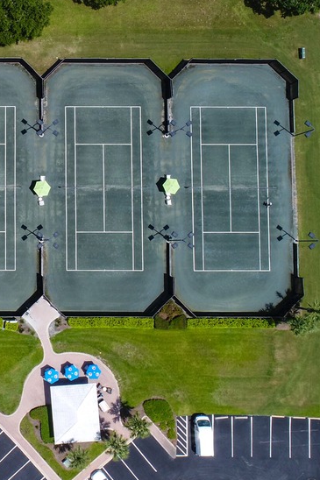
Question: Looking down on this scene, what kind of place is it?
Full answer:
This looks like a sports ground.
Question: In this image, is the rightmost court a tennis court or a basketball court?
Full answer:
In the photo, the rightmost court shows up as a tennis court.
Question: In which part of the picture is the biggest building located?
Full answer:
You can find the biggest building in the bottom left area of the picture.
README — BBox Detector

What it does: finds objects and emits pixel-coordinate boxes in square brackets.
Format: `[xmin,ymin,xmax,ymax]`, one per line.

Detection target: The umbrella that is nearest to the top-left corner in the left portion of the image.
[34,180,50,197]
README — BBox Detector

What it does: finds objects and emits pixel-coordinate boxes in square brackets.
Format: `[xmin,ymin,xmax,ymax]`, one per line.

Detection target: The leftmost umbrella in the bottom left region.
[45,368,59,384]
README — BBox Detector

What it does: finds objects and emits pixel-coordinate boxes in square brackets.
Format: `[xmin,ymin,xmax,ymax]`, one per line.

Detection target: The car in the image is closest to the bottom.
[93,468,112,480]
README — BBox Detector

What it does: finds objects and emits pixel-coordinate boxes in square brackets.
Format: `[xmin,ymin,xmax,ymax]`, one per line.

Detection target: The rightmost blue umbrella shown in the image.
[87,366,101,379]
